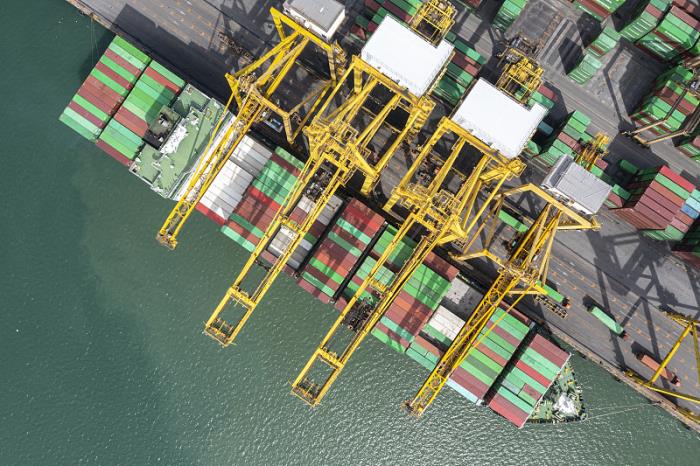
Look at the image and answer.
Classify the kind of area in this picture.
port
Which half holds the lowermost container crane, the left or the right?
right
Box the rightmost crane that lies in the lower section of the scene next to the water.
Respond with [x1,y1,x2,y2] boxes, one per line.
[619,309,700,427]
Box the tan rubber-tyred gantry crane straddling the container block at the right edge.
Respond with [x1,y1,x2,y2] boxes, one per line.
[619,58,700,150]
